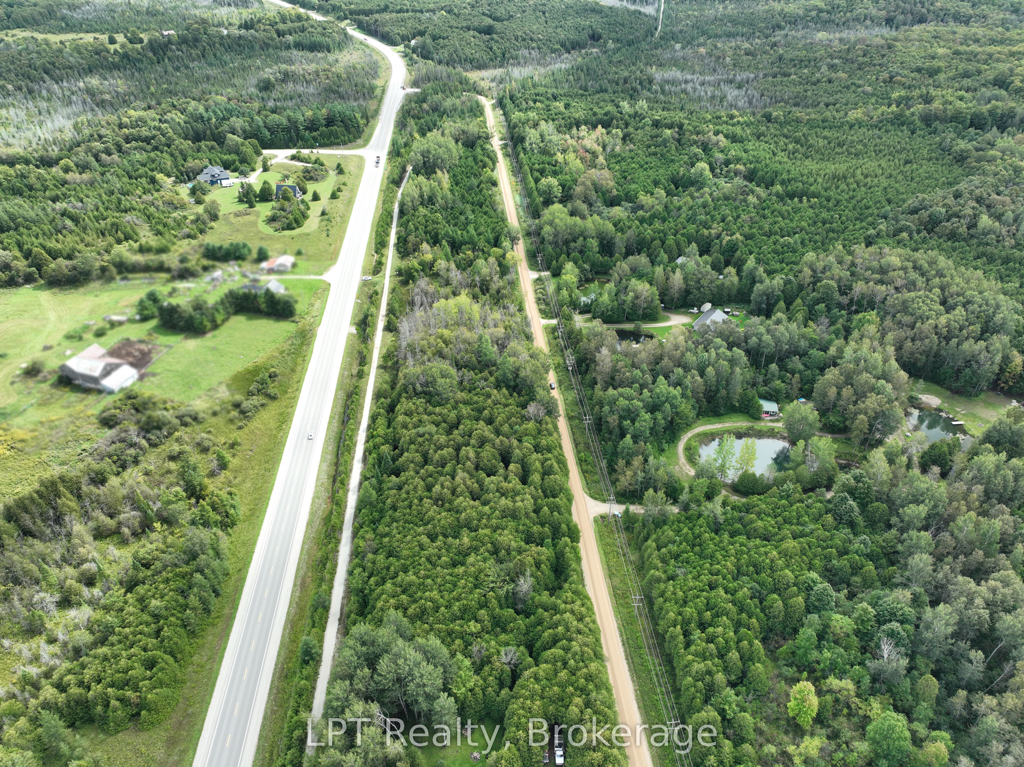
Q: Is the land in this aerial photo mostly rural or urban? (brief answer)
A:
rural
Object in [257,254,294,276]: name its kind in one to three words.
shed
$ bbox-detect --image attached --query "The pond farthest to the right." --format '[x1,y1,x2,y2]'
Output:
[907,407,973,455]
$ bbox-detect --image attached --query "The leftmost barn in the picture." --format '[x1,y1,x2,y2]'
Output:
[65,331,142,392]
